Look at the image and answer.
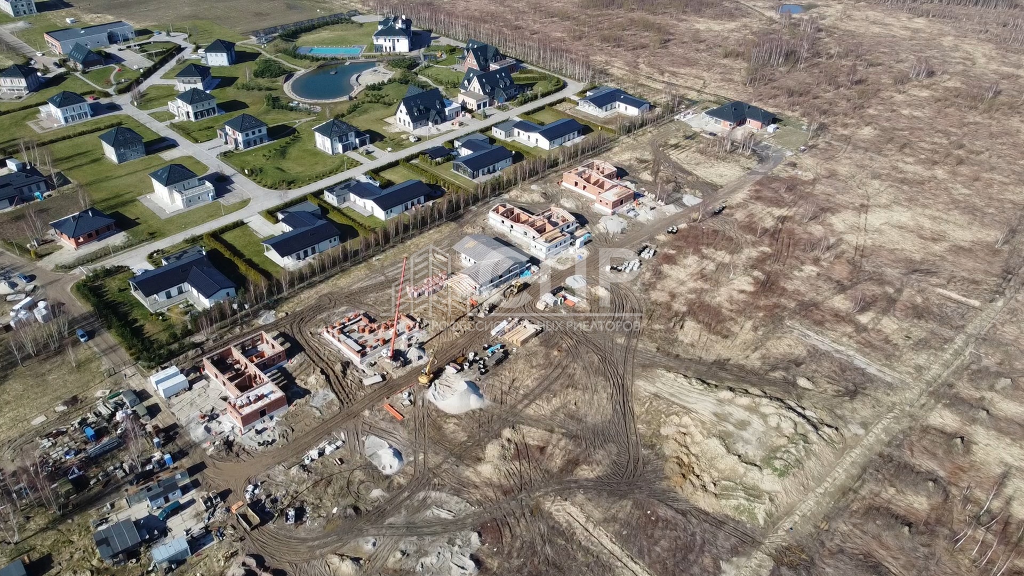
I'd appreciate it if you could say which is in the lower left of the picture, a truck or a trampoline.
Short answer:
truck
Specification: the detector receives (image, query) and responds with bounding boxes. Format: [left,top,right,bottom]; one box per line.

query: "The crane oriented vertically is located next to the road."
[367,255,411,371]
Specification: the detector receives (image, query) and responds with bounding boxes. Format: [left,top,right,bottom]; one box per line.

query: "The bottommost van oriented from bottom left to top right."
[156,500,190,528]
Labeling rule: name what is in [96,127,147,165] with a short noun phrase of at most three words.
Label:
house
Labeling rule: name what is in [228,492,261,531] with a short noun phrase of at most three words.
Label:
truck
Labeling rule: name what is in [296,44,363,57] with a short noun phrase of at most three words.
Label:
swimming pool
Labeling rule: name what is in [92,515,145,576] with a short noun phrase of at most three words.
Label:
shed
